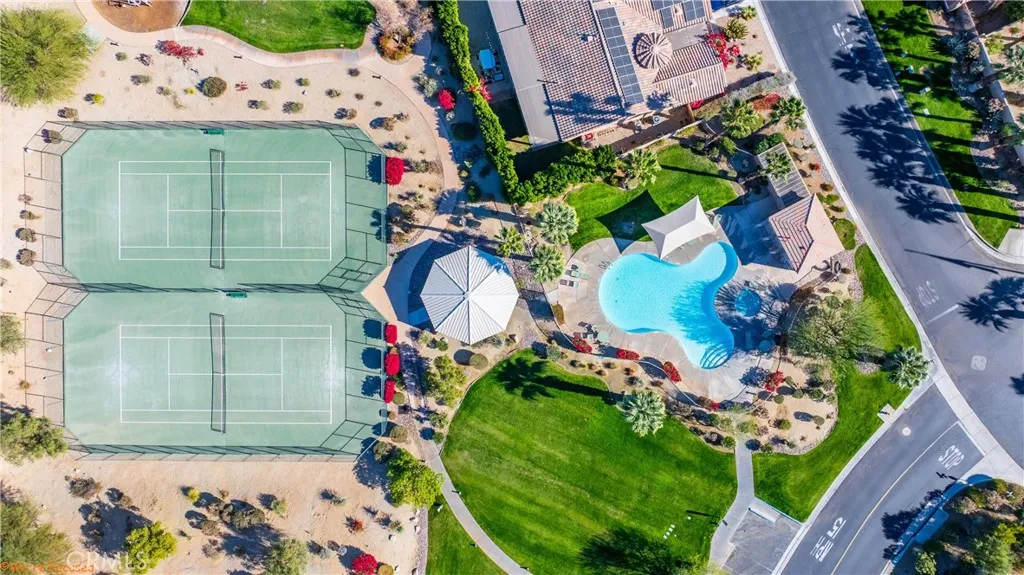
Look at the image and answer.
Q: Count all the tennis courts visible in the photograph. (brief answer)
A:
2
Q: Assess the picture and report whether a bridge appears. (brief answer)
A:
No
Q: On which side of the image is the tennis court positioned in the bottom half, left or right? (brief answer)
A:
left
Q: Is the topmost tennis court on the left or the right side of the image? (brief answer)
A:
left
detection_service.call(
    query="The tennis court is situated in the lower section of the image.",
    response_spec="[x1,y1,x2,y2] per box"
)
[64,291,385,454]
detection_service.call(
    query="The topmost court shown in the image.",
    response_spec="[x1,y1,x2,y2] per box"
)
[62,128,385,291]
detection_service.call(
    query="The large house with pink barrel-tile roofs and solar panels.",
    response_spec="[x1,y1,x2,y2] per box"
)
[487,0,730,149]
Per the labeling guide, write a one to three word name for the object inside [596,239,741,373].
swimming pool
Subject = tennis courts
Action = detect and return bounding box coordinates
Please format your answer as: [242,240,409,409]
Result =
[62,128,385,291]
[64,291,385,454]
